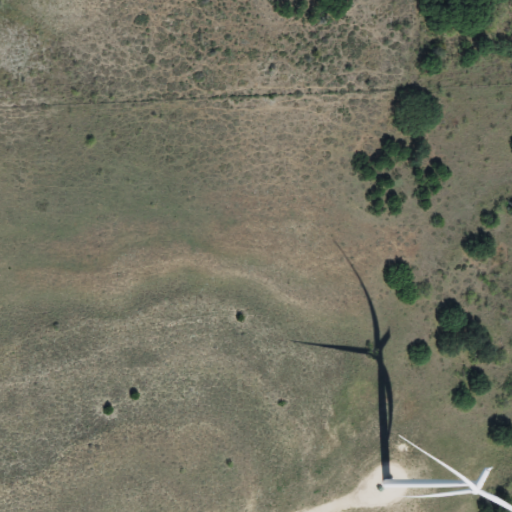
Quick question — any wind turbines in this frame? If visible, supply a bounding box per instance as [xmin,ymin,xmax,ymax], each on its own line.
[380,434,512,508]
